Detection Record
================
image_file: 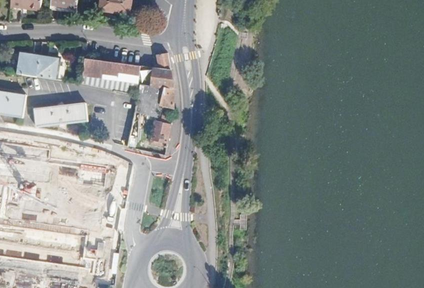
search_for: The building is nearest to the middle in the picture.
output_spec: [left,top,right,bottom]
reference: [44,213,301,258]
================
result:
[151,120,172,141]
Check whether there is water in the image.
Yes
